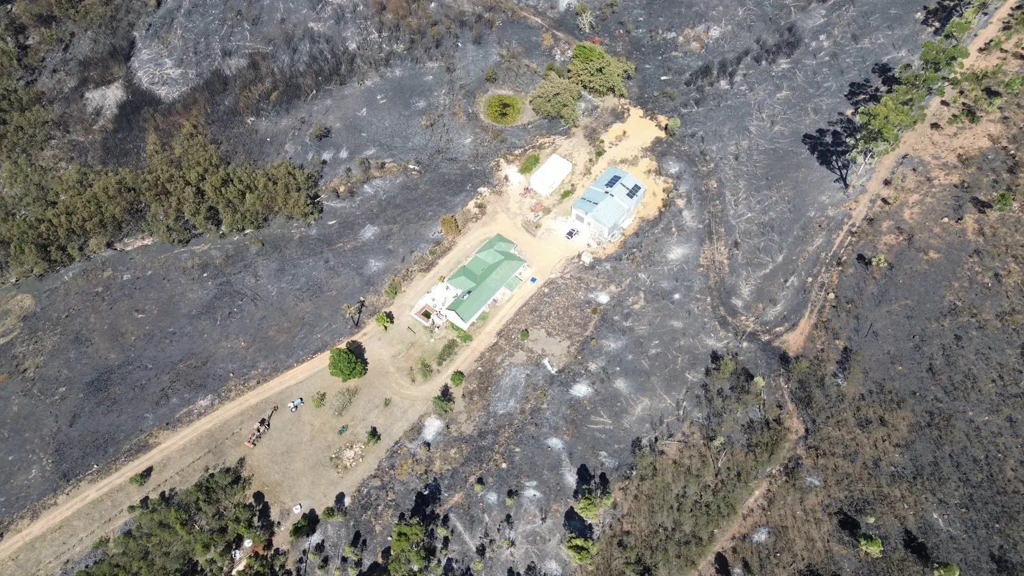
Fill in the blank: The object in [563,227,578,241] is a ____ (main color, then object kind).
white vehicle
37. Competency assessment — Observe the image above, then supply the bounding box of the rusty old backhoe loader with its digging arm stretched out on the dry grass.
[246,408,277,448]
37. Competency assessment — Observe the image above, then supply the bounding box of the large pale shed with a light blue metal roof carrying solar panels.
[570,165,648,238]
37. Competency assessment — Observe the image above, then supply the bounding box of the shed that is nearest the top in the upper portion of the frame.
[530,153,573,193]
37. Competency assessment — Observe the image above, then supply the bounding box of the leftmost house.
[446,232,535,331]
